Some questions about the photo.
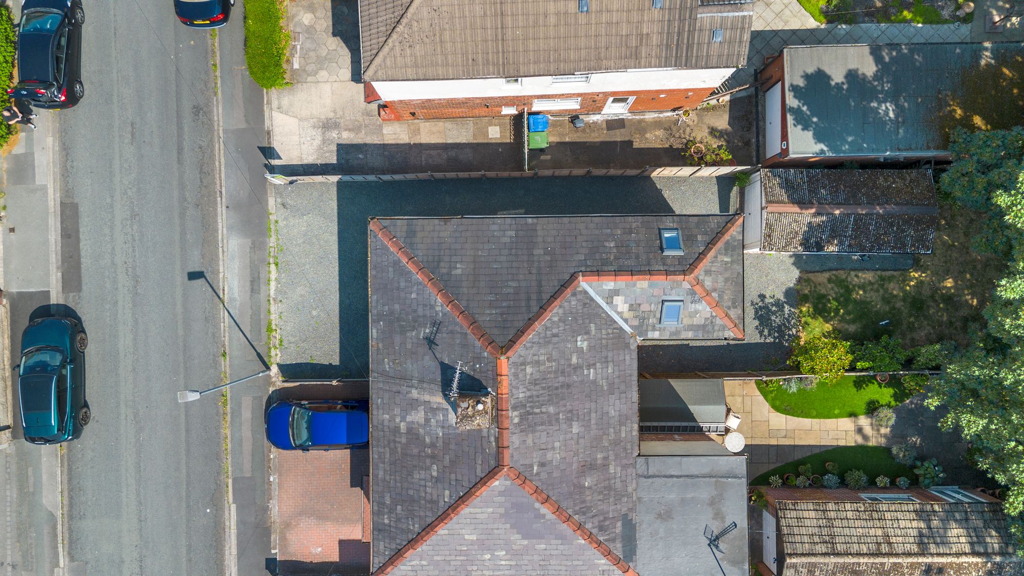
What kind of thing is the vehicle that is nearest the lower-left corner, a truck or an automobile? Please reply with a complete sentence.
Looking closely, the vehicle that is nearest the lower-left corner is an automobile.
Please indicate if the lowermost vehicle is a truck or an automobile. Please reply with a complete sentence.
I'd identify the lowermost vehicle as an automobile.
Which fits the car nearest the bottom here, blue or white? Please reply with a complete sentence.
The car nearest the bottom looks blue in the image.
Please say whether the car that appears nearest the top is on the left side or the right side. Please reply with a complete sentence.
The car that appears nearest the top appears in the left half of the scene.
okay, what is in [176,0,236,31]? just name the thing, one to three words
car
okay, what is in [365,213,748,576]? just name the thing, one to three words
house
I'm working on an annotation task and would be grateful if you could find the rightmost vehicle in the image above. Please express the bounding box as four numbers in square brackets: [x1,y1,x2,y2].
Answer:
[266,398,365,456]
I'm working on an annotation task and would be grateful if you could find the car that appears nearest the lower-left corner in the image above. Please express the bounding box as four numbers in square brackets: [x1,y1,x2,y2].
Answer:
[16,317,89,441]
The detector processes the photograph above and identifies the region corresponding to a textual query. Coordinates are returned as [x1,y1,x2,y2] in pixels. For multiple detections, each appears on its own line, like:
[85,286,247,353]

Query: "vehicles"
[266,398,365,456]
[3,0,84,111]
[16,317,89,441]
[176,0,236,31]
